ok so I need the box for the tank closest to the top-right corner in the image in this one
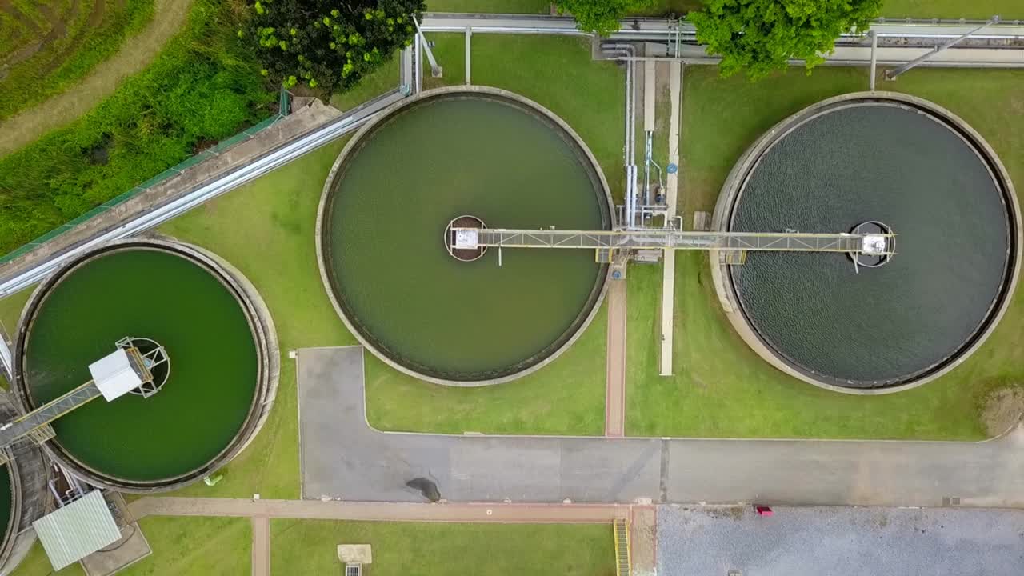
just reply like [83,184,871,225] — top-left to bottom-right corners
[711,92,1022,393]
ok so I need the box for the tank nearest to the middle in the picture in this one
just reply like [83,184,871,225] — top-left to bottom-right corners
[316,86,615,386]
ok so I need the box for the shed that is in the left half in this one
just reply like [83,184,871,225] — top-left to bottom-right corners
[32,488,134,572]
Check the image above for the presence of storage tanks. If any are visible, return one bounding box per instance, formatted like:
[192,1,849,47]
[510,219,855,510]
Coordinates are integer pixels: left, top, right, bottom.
[316,86,615,386]
[0,399,45,576]
[711,92,1022,393]
[16,239,279,490]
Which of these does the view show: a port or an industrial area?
industrial area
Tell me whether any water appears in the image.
Yes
